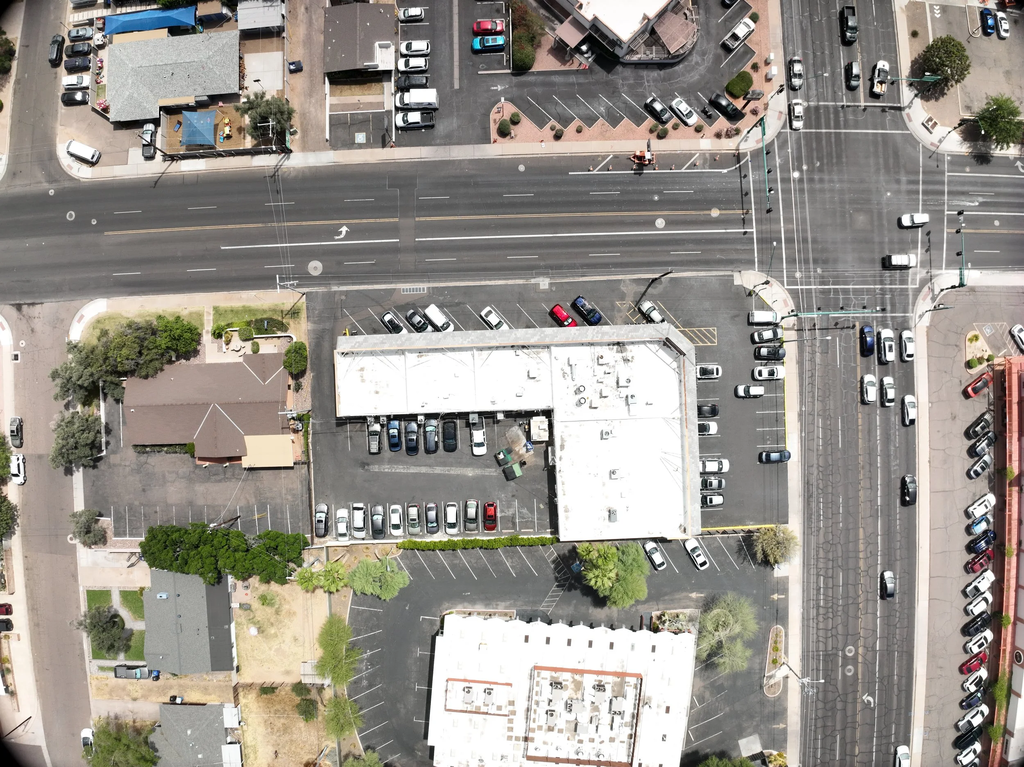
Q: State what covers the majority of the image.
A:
paved ground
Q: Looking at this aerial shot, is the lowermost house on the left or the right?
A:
left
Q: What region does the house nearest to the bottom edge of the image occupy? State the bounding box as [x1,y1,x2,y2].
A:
[154,700,242,767]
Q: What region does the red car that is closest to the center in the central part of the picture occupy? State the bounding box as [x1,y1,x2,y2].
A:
[550,302,575,327]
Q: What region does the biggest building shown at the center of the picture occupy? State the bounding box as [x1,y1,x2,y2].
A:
[334,322,701,542]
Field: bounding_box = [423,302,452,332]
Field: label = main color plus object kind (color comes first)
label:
white van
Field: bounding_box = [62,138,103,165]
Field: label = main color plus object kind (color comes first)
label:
white vehicle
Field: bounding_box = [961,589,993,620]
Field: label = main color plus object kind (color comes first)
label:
white car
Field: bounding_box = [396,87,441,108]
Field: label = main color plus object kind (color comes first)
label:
white truck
